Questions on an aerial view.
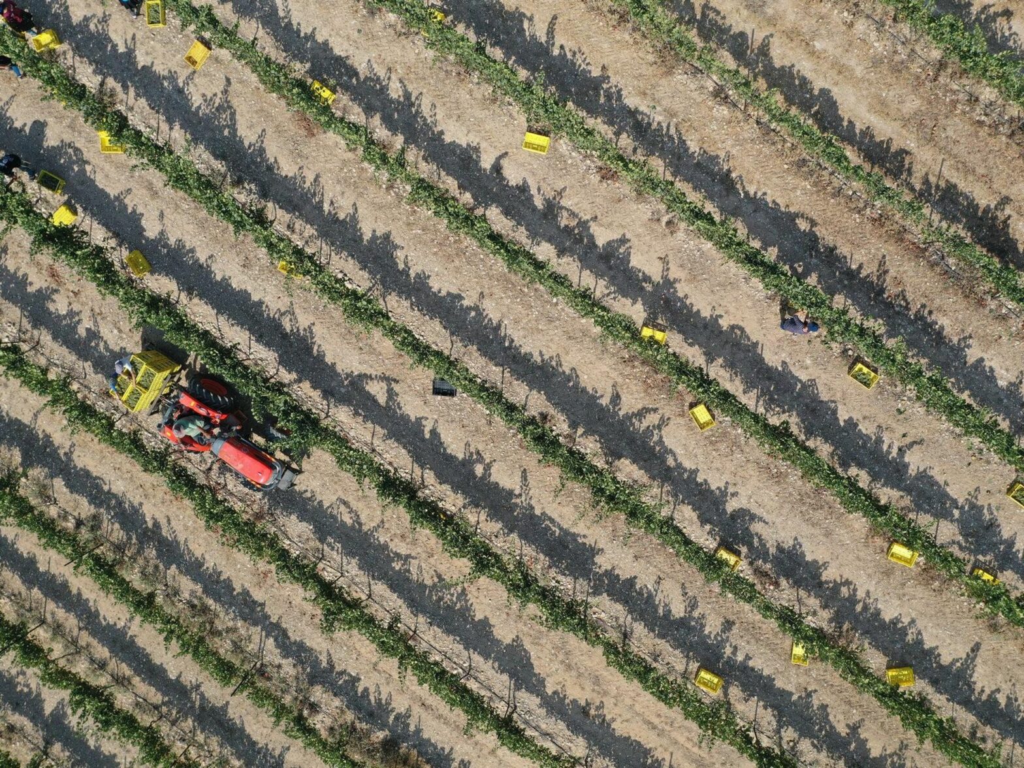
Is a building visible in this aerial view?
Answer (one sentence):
No, the scene contains no building.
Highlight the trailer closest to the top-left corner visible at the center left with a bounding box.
[141,341,189,416]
